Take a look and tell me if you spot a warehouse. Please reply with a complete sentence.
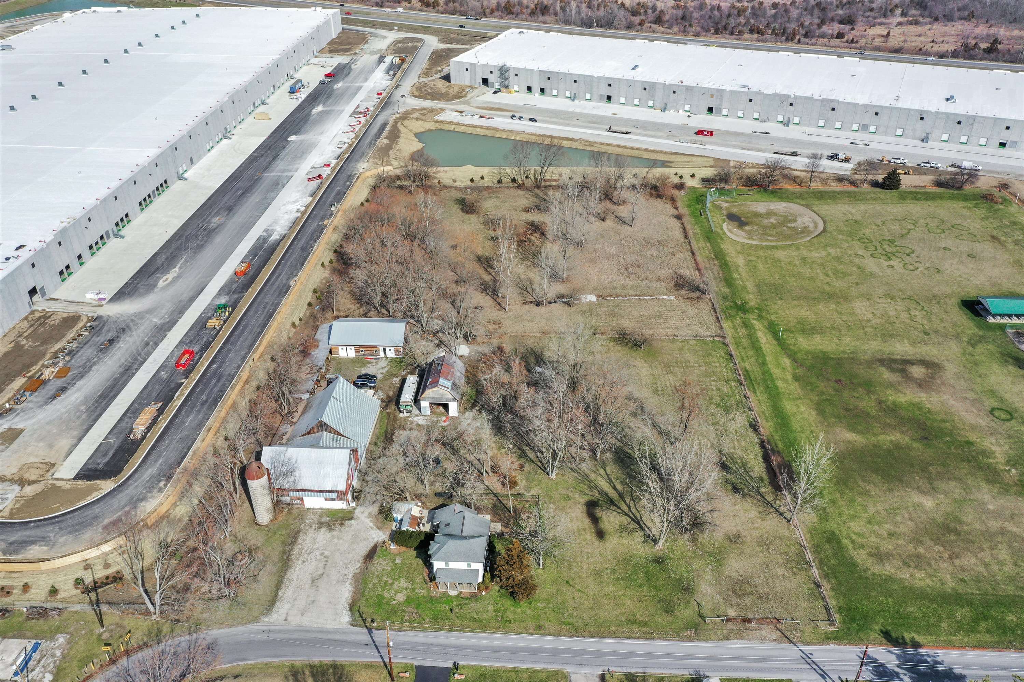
Yes, the photo shows a warehouse.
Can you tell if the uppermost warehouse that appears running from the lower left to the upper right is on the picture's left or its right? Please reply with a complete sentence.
The uppermost warehouse that appears running from the lower left to the upper right is on the left side of the image.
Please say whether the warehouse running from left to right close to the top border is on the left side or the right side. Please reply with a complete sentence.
It is on the right.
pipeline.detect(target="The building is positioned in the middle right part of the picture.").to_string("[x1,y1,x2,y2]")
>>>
[972,295,1024,323]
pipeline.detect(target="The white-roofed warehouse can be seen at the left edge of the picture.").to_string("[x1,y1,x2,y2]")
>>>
[0,5,343,338]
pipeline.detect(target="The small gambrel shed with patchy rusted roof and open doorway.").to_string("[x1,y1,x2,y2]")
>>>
[417,353,462,414]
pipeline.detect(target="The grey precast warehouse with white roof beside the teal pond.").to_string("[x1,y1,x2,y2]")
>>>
[450,27,1024,151]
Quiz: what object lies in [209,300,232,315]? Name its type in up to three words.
work vehicle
